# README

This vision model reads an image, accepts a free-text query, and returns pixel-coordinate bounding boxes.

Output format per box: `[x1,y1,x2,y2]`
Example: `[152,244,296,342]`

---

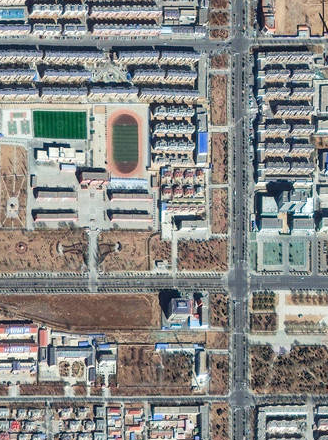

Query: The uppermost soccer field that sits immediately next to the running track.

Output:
[32,110,87,139]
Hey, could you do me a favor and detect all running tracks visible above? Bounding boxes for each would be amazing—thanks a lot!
[105,110,143,177]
